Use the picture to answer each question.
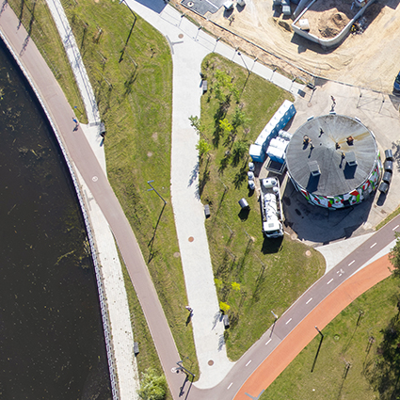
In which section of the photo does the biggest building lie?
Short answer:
right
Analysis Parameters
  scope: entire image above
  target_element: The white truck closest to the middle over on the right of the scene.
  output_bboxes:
[253,172,281,238]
